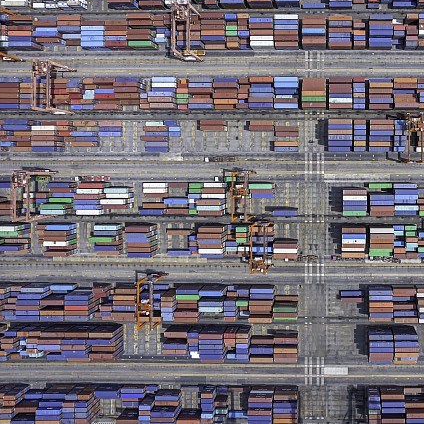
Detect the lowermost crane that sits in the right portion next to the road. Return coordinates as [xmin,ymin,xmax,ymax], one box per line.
[248,217,276,274]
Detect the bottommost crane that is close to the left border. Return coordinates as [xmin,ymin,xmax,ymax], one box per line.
[11,169,57,221]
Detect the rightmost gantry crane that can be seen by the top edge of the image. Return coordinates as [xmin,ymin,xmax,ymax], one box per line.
[171,2,205,60]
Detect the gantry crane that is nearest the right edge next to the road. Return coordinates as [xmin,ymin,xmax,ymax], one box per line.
[397,113,424,163]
